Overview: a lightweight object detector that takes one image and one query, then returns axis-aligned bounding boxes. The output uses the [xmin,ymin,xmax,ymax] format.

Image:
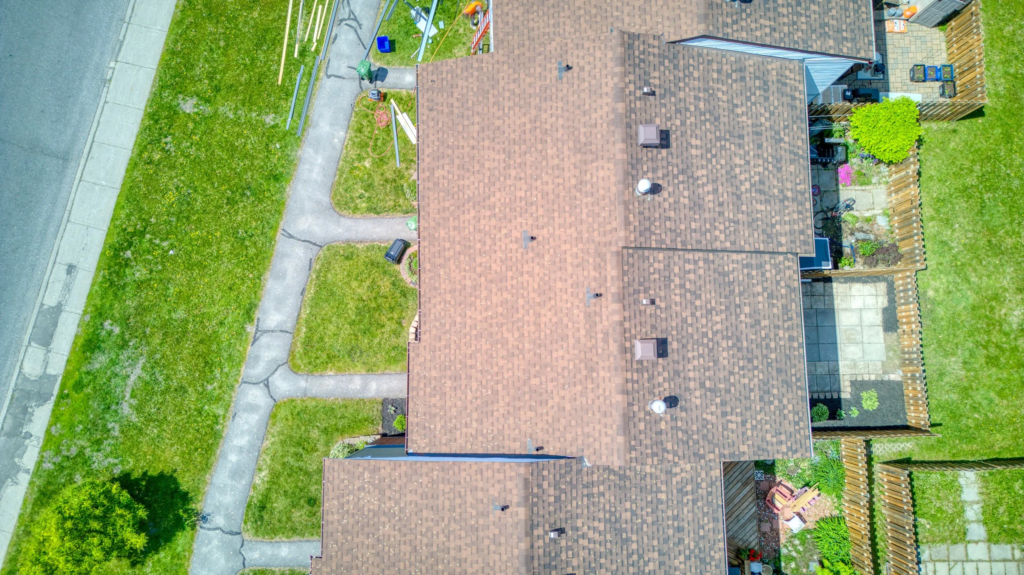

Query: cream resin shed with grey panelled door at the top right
[909,0,977,31]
